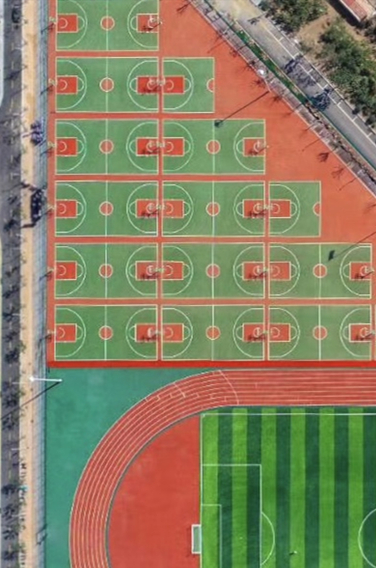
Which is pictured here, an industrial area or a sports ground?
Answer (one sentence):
What you see here is a sports ground.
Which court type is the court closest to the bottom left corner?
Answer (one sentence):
I'd say the court closest to the bottom left corner is a basketball court.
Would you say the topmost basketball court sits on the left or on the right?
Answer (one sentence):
You can find the topmost basketball court on the left side of the picture.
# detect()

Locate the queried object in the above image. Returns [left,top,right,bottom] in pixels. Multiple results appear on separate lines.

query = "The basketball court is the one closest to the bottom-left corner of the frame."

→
[54,304,158,360]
